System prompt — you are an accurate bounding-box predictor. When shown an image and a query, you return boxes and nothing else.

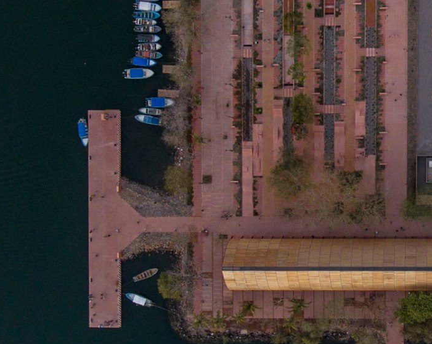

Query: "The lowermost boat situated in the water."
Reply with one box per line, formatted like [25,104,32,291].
[126,294,154,308]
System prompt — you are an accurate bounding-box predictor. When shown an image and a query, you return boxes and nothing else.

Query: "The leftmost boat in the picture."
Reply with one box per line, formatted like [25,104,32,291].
[76,117,89,146]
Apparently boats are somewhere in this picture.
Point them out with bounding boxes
[132,0,161,12]
[132,51,162,59]
[128,56,156,67]
[131,25,161,33]
[130,11,160,18]
[132,269,158,282]
[132,18,157,25]
[133,43,161,51]
[76,117,89,146]
[121,68,154,78]
[139,107,162,115]
[126,294,154,308]
[134,115,162,127]
[134,34,159,42]
[142,97,174,107]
